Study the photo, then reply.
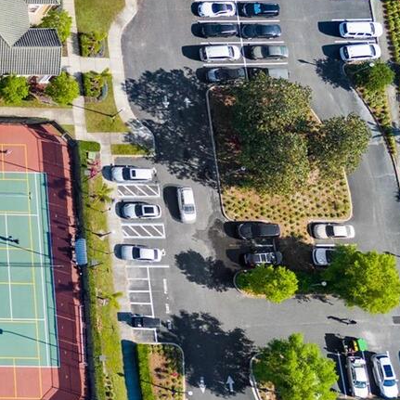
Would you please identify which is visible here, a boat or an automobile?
automobile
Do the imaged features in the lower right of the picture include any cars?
Yes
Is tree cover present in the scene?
Yes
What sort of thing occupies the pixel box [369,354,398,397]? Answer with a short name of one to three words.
car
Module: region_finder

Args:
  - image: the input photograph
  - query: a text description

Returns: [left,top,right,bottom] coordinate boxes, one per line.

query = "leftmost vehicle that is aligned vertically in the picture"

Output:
[174,184,199,226]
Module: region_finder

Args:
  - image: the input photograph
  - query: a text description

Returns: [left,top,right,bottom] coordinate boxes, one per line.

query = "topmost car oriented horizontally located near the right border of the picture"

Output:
[339,20,380,38]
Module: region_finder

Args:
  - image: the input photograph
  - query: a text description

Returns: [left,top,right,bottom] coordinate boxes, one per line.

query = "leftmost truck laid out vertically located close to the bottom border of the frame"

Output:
[343,354,369,399]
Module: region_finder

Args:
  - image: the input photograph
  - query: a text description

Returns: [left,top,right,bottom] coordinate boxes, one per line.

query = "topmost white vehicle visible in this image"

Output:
[198,1,234,17]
